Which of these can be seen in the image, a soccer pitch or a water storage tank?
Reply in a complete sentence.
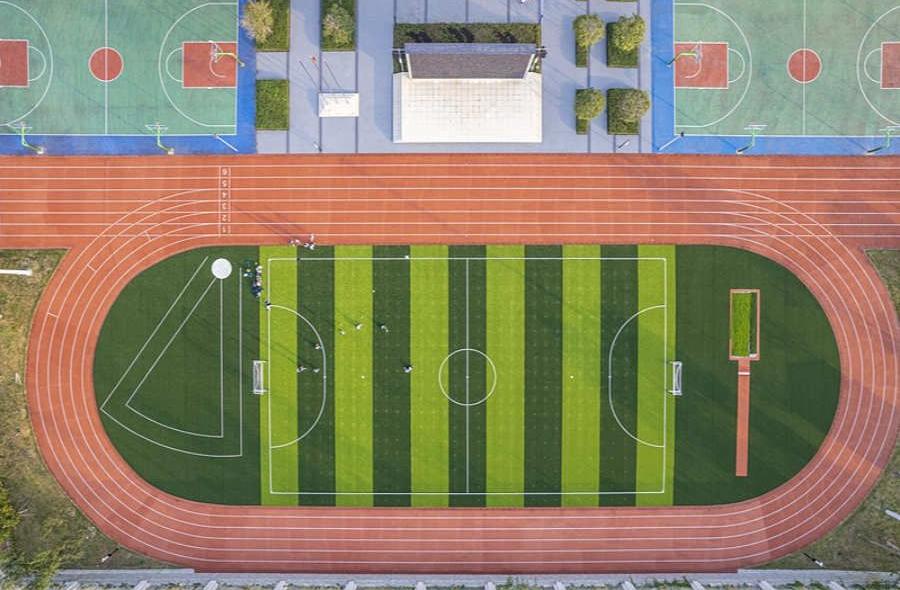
I can see a soccer pitch in this picture.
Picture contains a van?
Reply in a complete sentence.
No, the picture doesn't show any van.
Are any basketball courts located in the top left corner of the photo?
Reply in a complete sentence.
Yes, looking in the top left corner of the photo, one can make out a basketball court.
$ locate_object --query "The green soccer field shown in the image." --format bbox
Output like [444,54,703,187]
[260,246,675,506]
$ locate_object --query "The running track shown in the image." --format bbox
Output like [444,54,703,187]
[0,154,900,573]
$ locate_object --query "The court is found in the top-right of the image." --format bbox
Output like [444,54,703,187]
[652,0,900,154]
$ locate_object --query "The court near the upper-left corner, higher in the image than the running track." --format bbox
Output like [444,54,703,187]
[0,0,257,154]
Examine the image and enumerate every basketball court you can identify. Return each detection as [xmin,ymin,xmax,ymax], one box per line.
[652,0,900,154]
[0,0,257,154]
